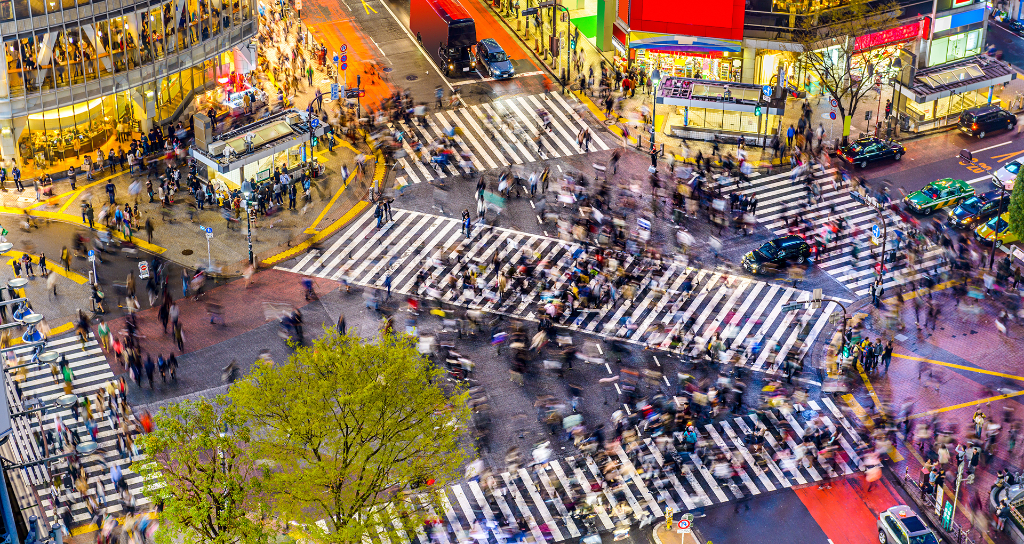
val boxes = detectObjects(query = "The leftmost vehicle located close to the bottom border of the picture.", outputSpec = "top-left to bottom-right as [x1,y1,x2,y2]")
[876,507,939,544]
